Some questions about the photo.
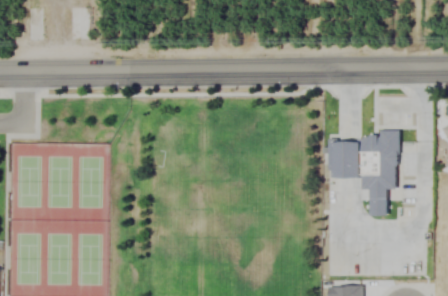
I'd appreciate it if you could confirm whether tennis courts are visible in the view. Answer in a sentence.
Yes, the picture does show a tennis court.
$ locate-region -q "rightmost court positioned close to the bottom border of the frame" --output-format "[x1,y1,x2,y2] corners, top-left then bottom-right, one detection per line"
[76,234,103,286]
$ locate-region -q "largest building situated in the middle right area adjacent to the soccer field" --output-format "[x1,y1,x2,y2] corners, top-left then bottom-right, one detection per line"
[329,131,401,217]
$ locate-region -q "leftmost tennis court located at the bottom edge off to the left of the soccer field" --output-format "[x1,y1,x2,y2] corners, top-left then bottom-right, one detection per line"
[15,234,42,286]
